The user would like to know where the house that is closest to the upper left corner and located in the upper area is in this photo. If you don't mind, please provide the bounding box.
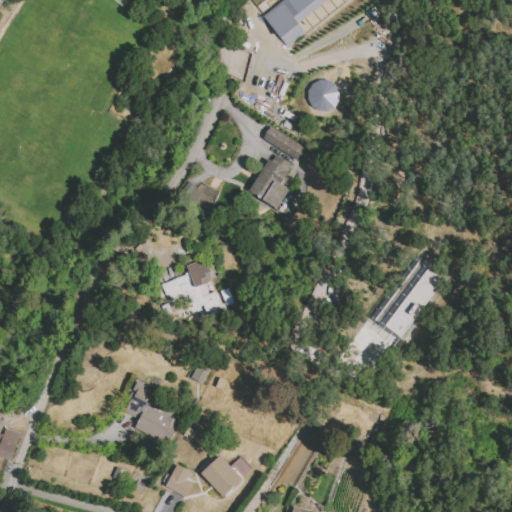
[183,180,220,206]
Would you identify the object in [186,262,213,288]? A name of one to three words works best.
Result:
house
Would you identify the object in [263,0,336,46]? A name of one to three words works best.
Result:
building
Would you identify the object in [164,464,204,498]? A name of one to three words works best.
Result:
house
